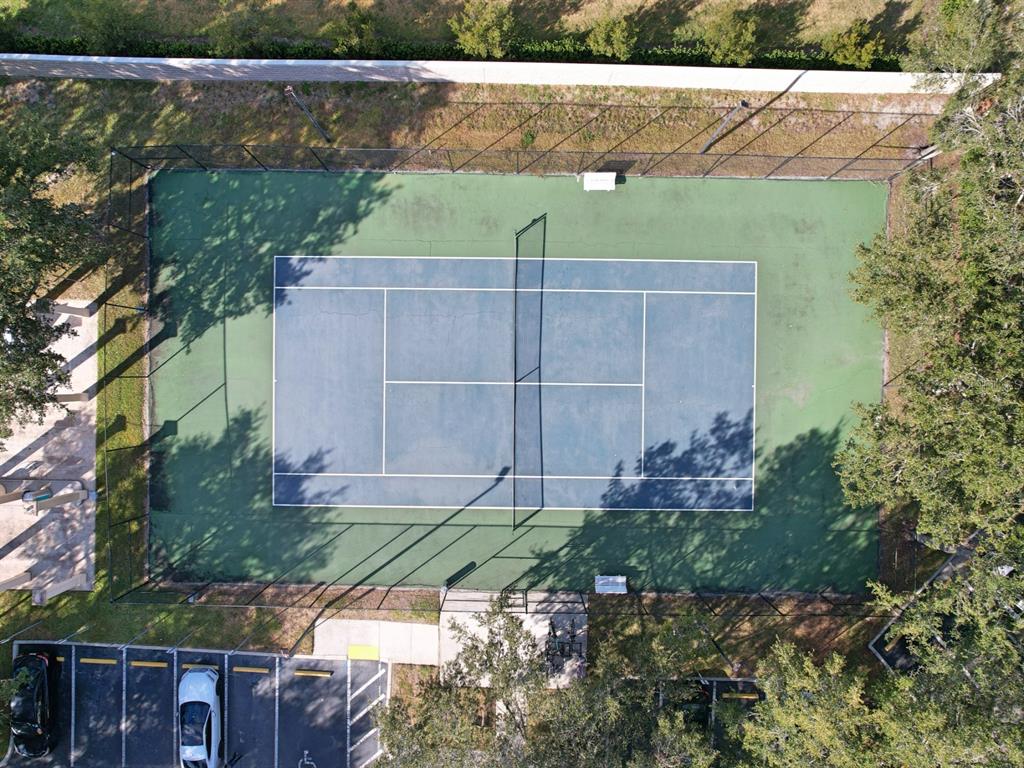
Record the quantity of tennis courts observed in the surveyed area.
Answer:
1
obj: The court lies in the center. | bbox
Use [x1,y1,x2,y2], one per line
[145,166,891,600]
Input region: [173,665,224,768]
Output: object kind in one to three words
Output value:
car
